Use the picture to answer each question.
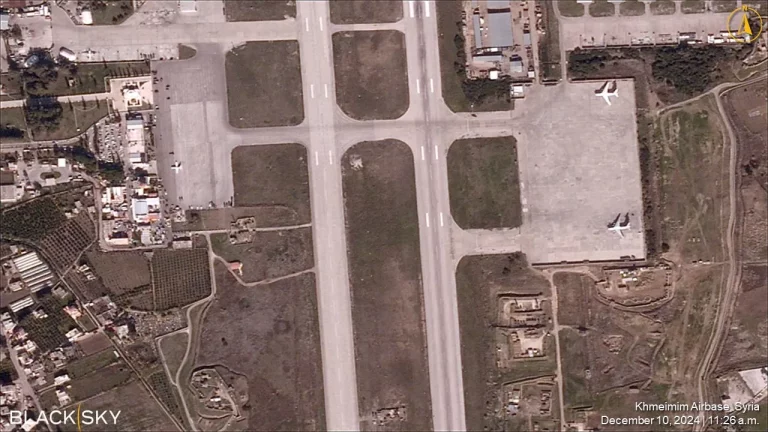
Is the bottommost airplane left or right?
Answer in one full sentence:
You can find the bottommost airplane on the right side of the picture.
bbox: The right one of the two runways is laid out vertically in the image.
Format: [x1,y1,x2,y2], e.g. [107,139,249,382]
[404,0,466,432]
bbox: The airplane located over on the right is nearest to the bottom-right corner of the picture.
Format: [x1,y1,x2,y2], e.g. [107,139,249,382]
[608,216,632,240]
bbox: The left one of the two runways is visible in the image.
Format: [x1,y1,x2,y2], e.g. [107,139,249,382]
[297,0,359,432]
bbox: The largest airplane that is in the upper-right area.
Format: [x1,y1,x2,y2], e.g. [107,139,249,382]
[596,82,619,106]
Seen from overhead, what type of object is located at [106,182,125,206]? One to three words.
house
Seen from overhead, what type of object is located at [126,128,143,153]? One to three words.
building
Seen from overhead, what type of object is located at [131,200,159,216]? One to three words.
building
